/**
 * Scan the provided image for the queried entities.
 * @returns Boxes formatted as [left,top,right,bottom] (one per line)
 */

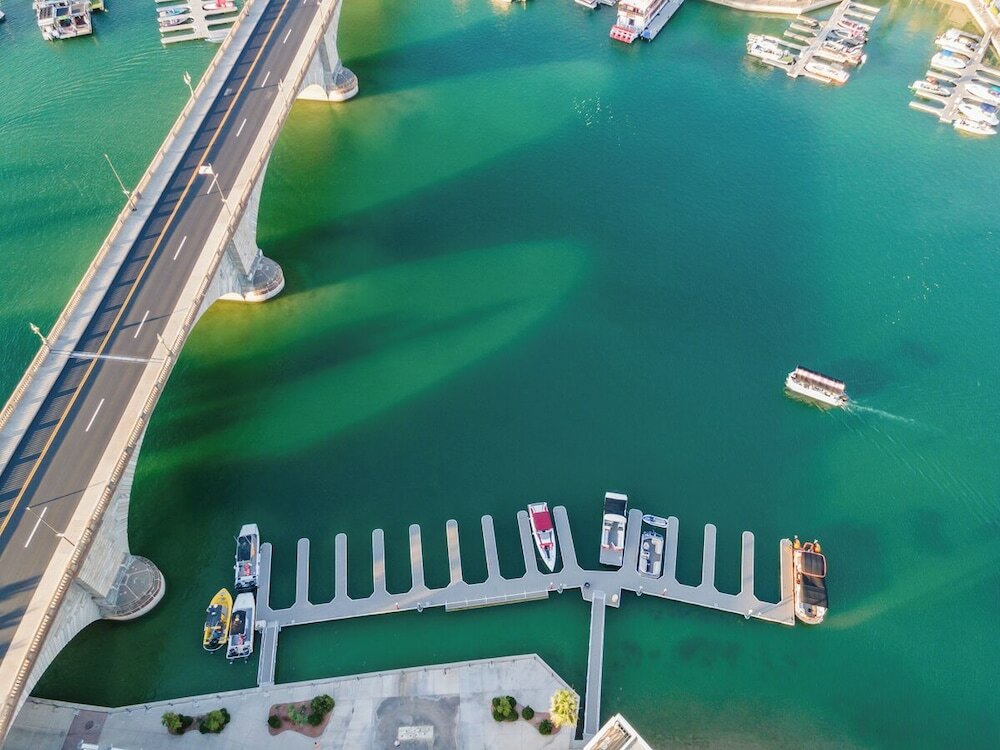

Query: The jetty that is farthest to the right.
[911,33,1000,128]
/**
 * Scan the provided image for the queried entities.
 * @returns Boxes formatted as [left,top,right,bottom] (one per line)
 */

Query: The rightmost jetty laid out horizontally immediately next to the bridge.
[253,506,796,629]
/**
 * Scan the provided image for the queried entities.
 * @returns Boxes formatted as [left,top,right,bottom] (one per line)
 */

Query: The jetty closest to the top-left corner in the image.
[152,0,242,45]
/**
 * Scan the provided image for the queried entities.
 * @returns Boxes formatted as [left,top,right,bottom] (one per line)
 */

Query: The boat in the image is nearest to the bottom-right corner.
[794,533,832,626]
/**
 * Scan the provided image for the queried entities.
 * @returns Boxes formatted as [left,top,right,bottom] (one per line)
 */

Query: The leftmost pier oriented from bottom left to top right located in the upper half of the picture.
[641,0,687,42]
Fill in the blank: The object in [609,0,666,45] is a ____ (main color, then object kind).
white ship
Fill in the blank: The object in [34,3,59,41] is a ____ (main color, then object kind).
white boat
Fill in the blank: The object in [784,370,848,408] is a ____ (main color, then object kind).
white boat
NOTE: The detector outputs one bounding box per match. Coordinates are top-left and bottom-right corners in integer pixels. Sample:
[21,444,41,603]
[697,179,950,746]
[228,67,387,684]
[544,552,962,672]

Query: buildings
[582,713,650,750]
